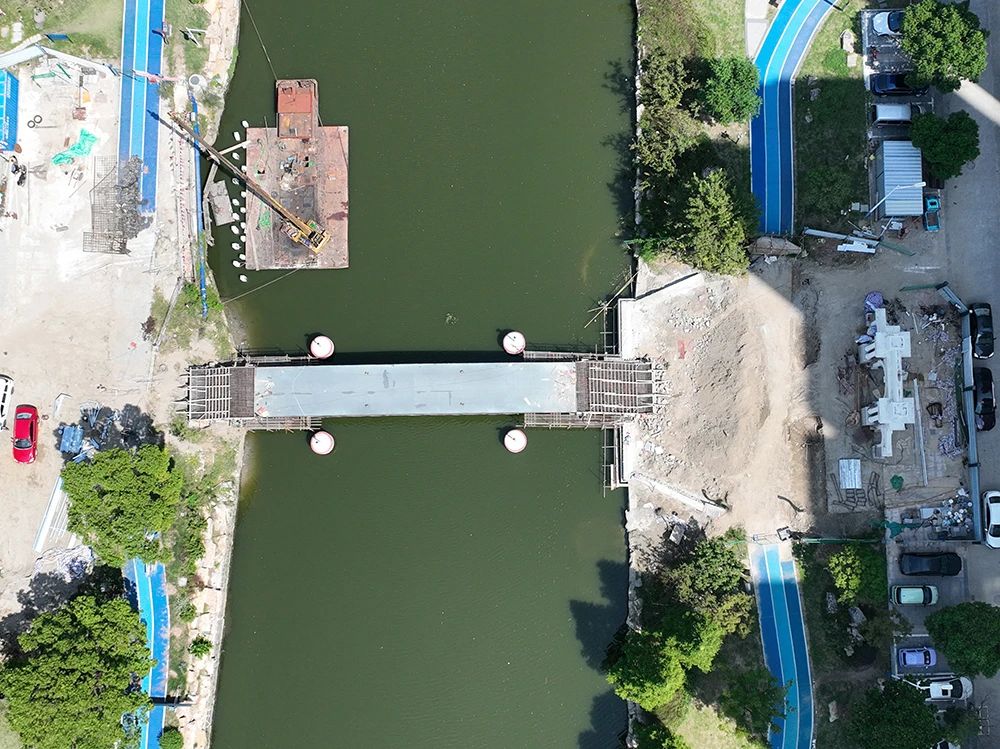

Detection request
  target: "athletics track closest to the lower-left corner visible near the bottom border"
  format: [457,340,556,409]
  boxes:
[119,552,170,749]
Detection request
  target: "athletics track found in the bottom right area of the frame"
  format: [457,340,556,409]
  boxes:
[749,543,814,749]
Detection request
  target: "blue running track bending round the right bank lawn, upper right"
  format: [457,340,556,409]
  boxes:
[750,0,836,236]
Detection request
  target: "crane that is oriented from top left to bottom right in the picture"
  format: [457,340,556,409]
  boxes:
[165,106,332,256]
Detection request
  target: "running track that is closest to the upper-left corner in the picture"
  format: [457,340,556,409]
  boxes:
[117,0,165,213]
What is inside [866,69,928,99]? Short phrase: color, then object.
black car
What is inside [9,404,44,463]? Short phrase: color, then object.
red car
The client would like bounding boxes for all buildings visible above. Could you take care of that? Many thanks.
[875,140,932,216]
[0,68,19,151]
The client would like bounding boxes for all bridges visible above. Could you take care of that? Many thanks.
[178,358,681,420]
